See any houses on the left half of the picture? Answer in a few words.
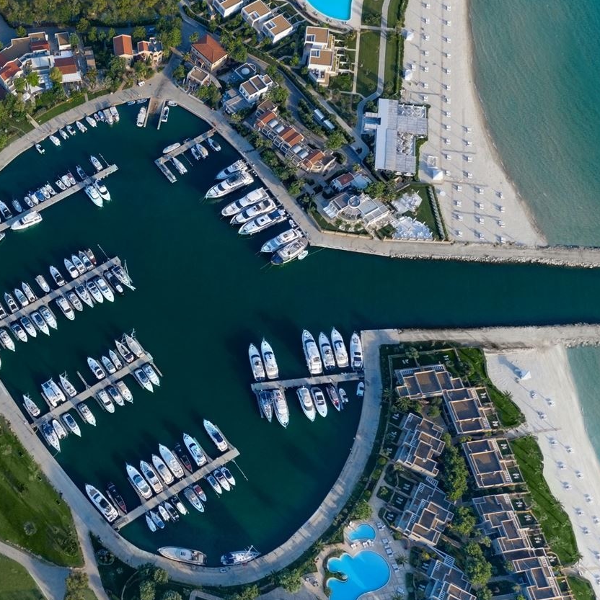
Yes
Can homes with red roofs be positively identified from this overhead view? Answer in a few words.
Yes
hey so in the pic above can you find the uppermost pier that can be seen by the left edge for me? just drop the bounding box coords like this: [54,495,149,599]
[0,153,117,233]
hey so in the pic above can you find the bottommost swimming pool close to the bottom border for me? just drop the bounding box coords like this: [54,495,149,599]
[325,549,392,600]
